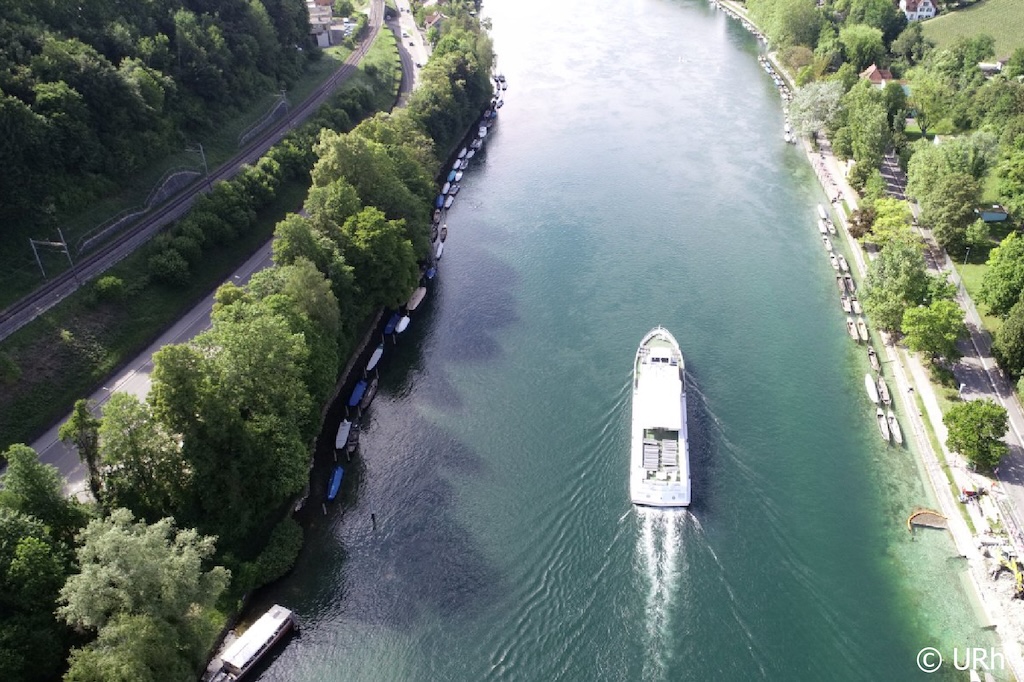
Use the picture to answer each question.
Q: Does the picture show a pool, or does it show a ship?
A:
ship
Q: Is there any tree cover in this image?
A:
Yes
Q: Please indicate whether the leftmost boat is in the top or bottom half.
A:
bottom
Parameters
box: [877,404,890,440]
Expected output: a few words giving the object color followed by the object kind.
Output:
white boat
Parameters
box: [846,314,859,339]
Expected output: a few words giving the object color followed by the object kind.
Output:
white boat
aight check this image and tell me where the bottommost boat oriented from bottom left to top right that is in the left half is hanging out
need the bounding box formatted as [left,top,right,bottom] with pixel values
[210,604,298,682]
